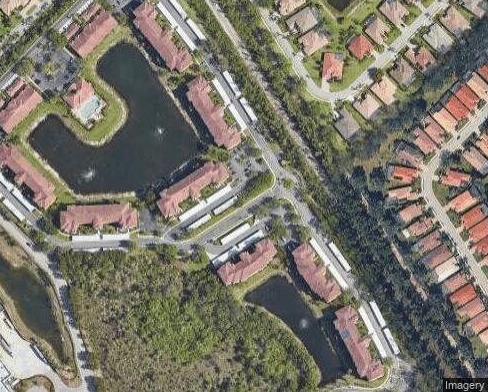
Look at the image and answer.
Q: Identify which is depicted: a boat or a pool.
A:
pool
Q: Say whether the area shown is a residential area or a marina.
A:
residential area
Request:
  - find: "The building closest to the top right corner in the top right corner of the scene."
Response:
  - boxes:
[457,0,488,19]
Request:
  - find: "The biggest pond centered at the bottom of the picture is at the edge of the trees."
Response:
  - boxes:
[244,275,343,384]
